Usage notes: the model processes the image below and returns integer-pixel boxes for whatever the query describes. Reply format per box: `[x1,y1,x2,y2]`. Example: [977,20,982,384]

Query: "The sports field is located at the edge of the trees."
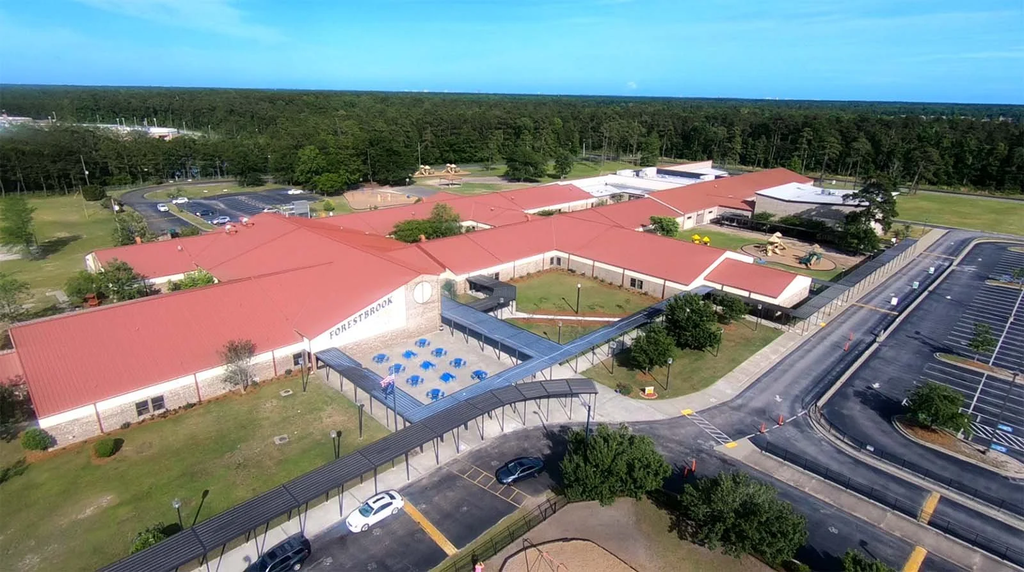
[856,185,1024,235]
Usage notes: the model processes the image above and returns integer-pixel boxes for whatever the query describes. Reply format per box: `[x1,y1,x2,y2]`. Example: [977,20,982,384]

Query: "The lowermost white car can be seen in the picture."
[346,485,407,529]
